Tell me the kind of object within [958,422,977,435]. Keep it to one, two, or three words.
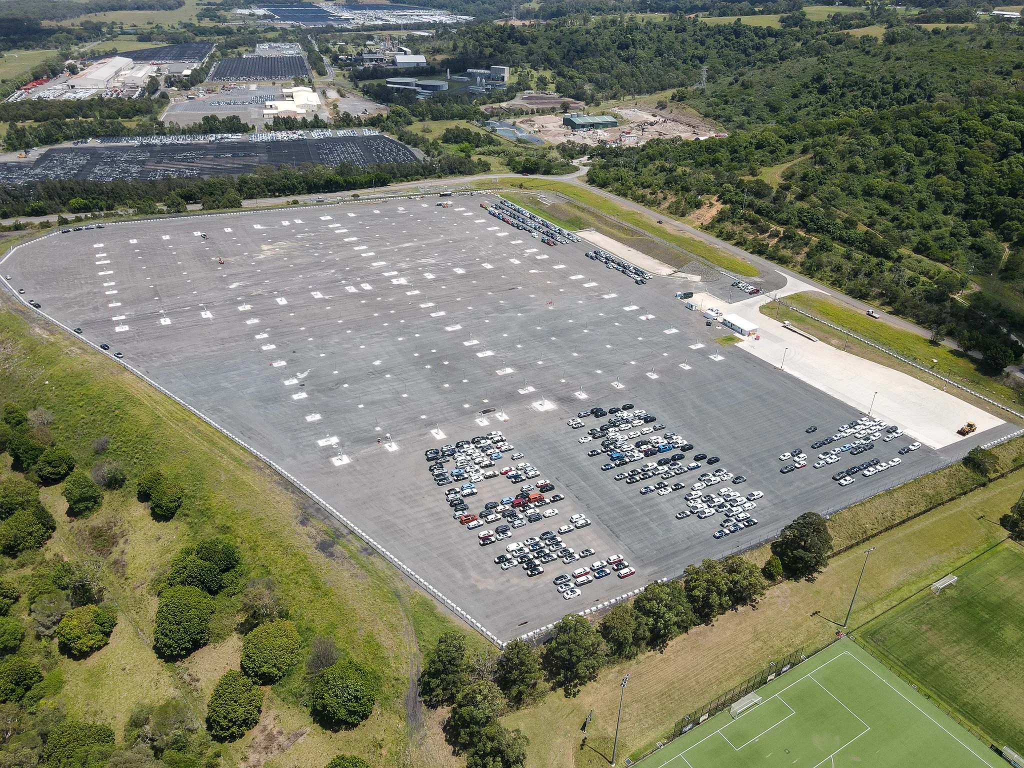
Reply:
vehicle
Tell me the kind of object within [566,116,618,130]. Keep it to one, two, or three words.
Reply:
shed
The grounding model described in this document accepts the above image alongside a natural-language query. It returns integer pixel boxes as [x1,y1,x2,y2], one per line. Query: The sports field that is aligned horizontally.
[626,645,979,768]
